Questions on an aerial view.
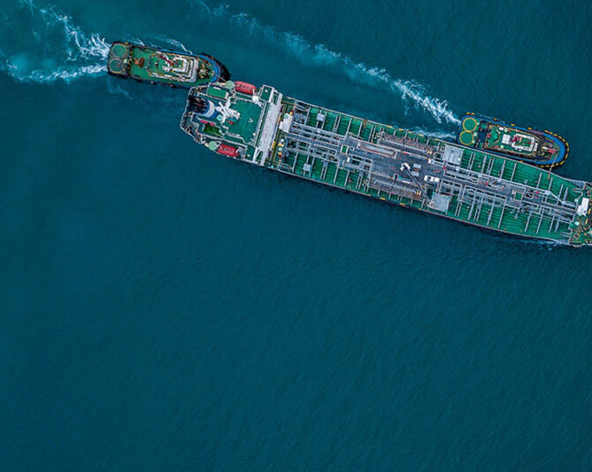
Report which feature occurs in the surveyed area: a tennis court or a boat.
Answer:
boat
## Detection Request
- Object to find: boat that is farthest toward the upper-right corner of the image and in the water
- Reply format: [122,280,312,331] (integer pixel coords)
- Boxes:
[456,112,568,169]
